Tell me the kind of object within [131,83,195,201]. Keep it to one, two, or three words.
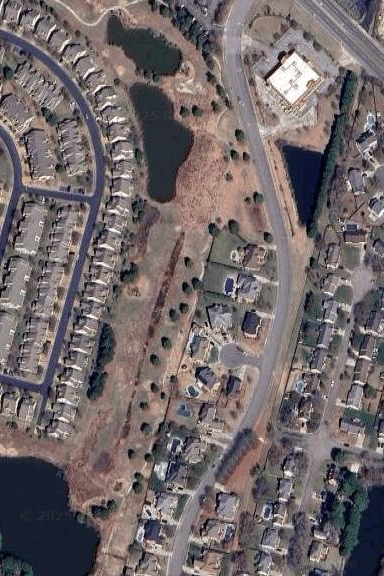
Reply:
pond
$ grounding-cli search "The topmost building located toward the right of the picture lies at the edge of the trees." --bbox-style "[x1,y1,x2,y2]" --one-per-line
[267,51,325,105]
